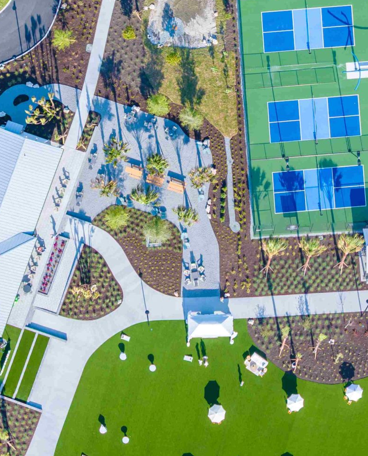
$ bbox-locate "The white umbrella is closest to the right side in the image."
[346,384,362,401]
